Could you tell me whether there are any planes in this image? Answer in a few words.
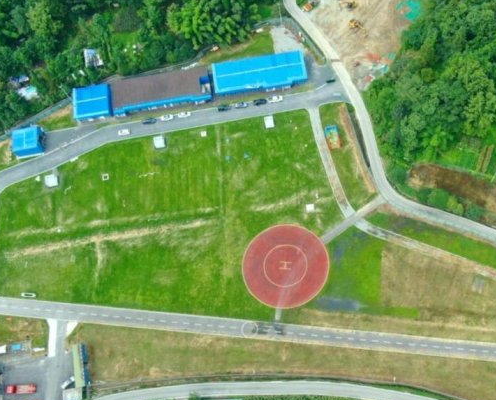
No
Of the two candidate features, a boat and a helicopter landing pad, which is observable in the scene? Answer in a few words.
helicopter landing pad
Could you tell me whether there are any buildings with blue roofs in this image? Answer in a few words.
Yes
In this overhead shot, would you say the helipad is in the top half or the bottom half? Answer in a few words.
bottom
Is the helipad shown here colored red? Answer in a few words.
Yes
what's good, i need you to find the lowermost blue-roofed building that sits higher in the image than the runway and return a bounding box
[10,126,48,159]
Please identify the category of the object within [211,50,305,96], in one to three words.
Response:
building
